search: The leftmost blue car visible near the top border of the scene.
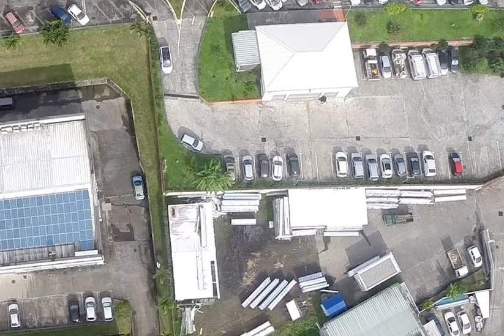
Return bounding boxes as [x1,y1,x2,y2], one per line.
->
[49,3,72,25]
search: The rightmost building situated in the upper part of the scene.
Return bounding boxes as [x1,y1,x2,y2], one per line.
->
[254,21,358,102]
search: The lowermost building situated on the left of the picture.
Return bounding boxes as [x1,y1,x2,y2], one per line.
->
[164,202,219,300]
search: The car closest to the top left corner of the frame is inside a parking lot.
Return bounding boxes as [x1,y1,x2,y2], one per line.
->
[5,11,23,34]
